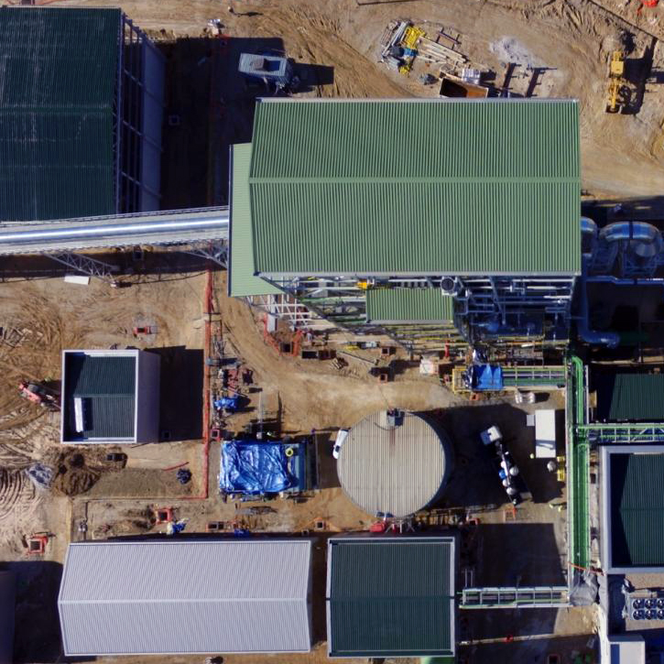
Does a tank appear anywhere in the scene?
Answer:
Yes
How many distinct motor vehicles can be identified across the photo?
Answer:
4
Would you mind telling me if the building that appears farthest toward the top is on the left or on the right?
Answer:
left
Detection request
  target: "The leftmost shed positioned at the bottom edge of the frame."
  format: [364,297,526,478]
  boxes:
[60,533,325,657]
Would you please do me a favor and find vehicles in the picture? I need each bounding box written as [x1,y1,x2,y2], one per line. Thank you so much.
[327,427,348,458]
[487,430,536,515]
[15,381,59,413]
[608,55,628,113]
